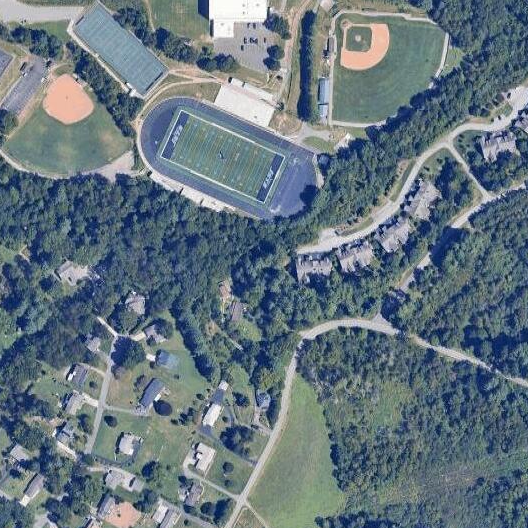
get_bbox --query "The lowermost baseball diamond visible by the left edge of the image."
[6,70,134,174]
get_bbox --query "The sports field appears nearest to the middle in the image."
[155,102,291,210]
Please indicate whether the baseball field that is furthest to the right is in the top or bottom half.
top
